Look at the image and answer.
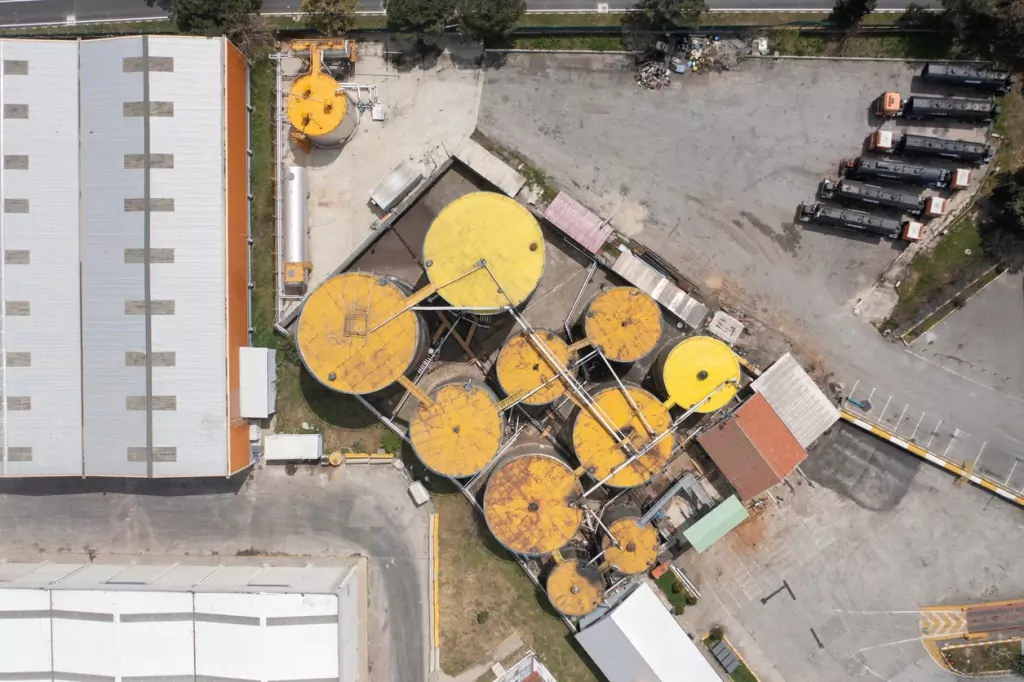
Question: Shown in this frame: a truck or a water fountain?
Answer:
truck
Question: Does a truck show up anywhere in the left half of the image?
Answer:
No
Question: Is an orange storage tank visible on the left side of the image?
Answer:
Yes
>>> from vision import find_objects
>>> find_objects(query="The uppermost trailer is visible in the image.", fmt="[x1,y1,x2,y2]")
[915,63,1006,92]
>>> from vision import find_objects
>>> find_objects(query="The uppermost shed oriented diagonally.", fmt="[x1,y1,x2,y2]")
[455,139,527,197]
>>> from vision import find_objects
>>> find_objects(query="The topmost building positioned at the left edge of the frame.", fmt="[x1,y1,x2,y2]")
[0,35,255,479]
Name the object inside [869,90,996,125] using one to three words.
truck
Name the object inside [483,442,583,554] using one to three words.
storage tank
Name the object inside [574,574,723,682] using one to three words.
building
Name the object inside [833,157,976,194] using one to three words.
truck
